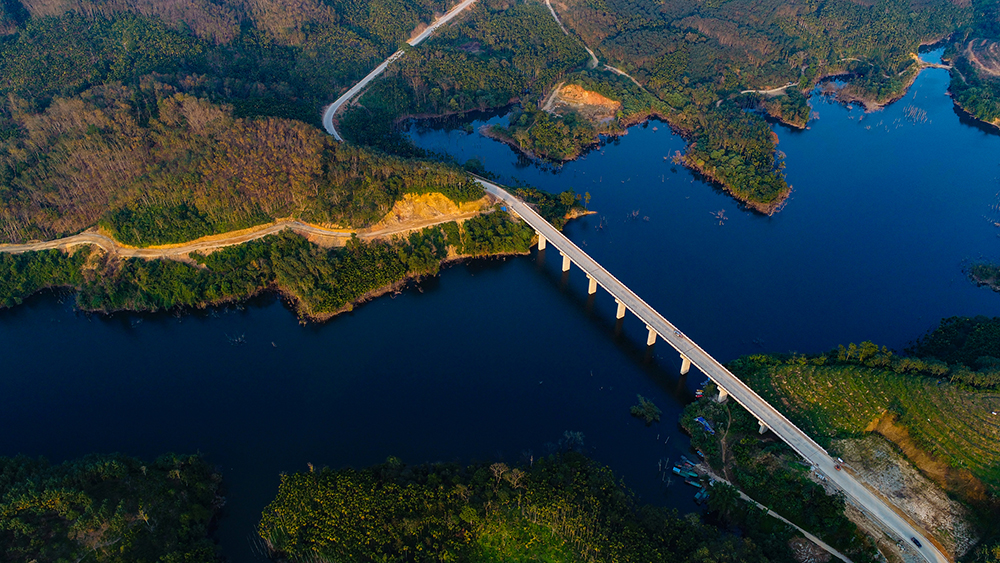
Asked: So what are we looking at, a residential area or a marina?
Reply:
marina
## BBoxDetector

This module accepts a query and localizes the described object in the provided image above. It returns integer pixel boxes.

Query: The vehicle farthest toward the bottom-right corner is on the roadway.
[909,536,924,549]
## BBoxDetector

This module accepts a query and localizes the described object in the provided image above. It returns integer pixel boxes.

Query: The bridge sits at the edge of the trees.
[509,204,841,476]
